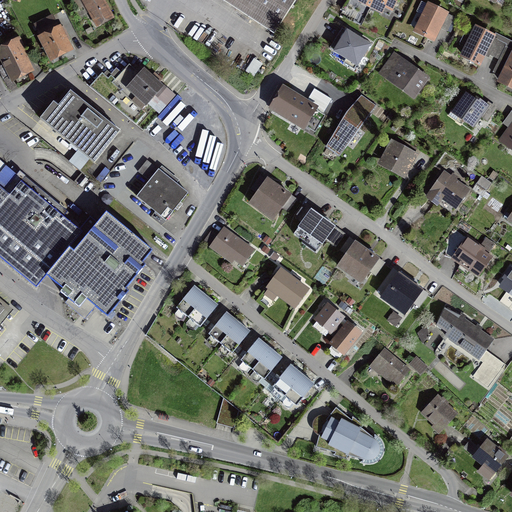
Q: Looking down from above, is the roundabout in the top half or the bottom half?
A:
bottom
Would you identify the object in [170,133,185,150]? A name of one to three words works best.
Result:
vehicle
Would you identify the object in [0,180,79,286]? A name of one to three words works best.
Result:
building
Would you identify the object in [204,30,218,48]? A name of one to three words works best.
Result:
vehicle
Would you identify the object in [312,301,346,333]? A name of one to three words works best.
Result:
house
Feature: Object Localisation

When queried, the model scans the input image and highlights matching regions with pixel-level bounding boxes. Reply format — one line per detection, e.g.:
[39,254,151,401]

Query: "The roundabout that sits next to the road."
[52,386,123,457]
